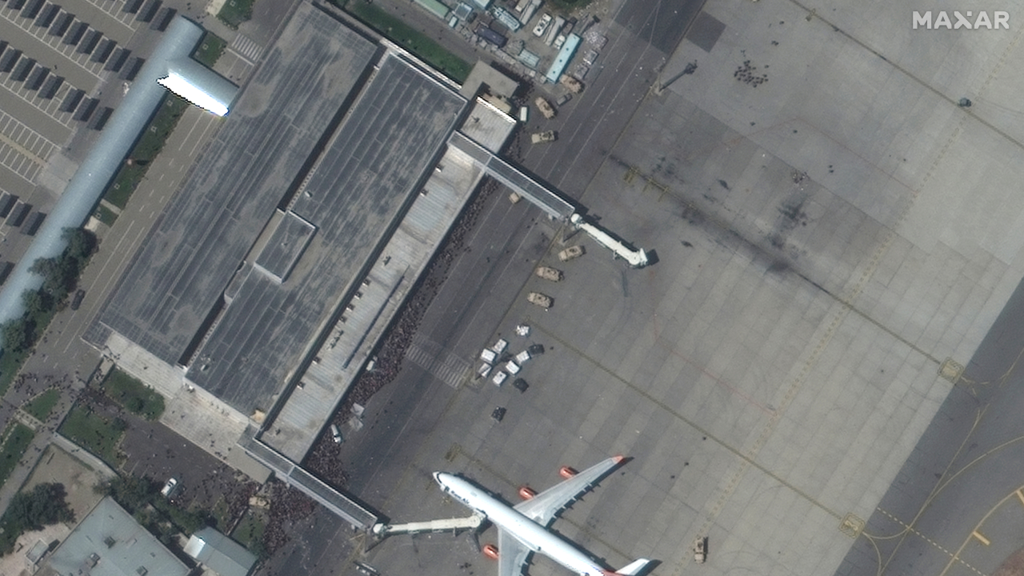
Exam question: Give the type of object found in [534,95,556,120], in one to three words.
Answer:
truck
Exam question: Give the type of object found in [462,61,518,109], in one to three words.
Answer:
building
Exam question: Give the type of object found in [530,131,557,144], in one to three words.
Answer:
vehicle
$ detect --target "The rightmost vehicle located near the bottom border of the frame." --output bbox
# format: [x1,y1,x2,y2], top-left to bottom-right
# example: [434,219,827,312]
[694,534,706,563]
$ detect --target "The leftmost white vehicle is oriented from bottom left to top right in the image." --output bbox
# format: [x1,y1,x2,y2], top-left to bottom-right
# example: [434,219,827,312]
[160,477,178,497]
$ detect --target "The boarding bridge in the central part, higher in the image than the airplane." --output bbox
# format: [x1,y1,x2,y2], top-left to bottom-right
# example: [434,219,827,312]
[570,213,653,269]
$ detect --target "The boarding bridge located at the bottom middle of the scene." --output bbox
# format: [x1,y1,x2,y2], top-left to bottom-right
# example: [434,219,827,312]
[372,507,492,542]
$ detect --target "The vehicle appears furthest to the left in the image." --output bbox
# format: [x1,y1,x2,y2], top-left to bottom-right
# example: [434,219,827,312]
[71,290,85,309]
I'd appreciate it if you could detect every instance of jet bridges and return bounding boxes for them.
[570,213,653,269]
[372,507,492,542]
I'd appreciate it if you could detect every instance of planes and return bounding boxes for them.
[434,457,653,576]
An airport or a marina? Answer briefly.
airport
